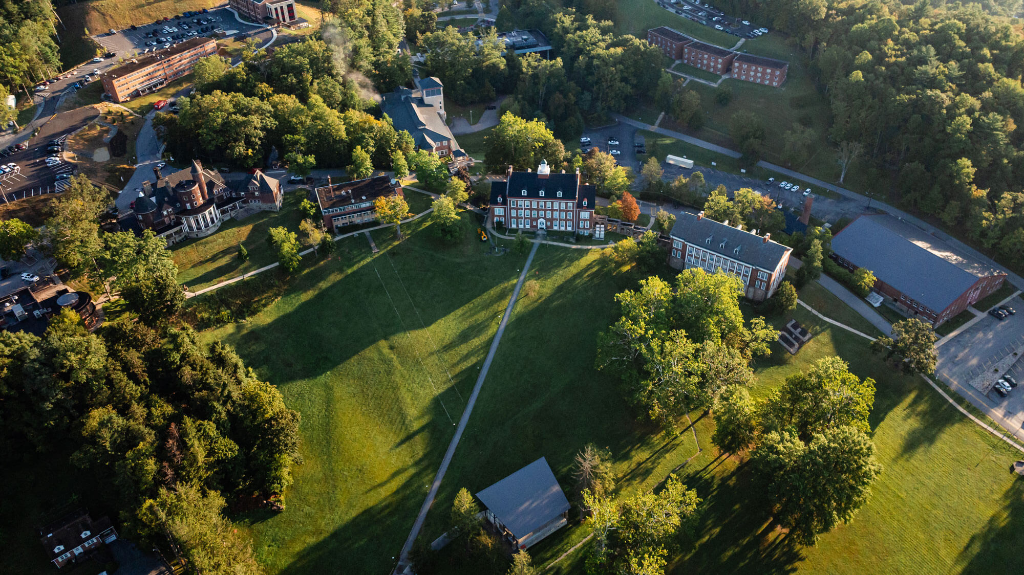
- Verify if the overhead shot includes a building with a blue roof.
Yes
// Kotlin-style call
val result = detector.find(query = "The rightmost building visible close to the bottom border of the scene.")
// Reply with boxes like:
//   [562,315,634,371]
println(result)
[476,457,570,551]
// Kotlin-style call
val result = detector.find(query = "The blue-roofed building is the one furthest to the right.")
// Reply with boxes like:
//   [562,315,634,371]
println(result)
[819,215,1009,324]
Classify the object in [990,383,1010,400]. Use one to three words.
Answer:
car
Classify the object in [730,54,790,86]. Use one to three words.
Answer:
building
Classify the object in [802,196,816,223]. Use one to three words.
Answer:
chimney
